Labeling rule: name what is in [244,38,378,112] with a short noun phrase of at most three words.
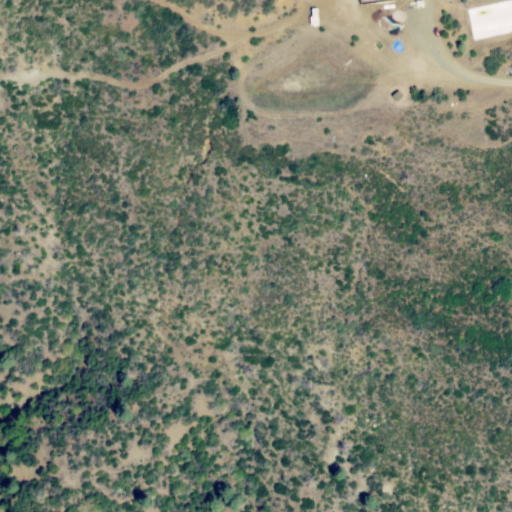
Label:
pond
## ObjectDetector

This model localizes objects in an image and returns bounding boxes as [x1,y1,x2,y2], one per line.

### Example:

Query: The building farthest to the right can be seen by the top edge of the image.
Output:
[470,2,512,40]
